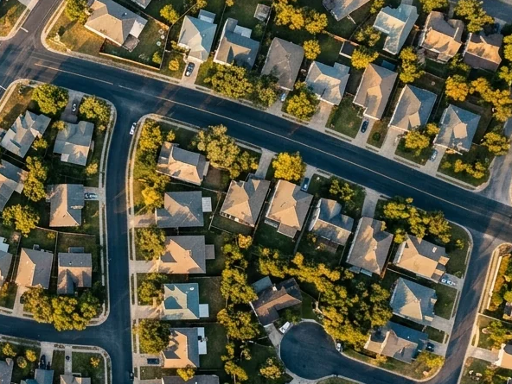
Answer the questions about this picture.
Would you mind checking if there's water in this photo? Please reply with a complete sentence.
No, the picture contains no water.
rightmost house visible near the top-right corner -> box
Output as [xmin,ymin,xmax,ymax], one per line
[460,32,504,74]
